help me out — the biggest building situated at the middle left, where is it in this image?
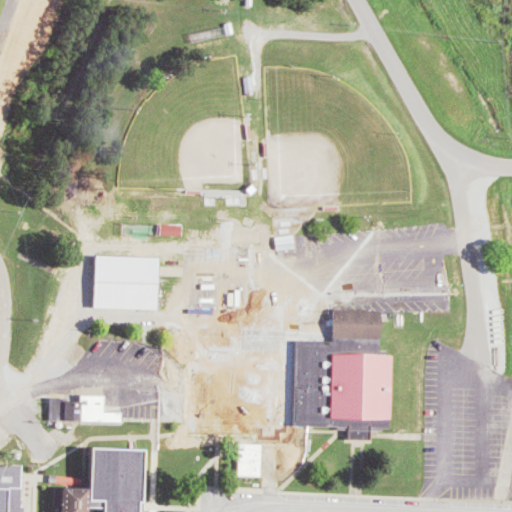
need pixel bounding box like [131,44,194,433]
[94,257,159,310]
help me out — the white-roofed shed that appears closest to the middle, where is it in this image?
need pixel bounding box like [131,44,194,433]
[274,236,296,251]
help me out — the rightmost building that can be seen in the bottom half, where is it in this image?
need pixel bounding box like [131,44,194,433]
[294,310,393,438]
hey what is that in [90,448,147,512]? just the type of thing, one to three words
building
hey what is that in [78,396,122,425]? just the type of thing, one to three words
building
